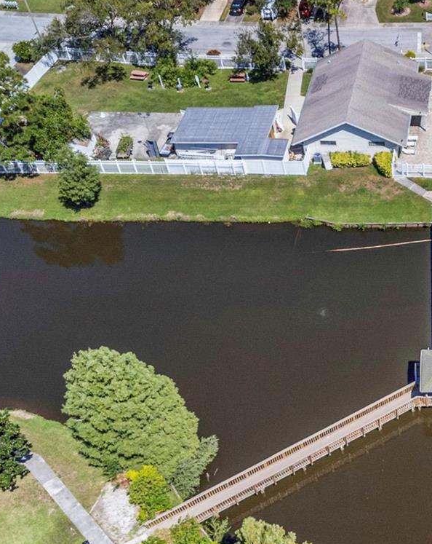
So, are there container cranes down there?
No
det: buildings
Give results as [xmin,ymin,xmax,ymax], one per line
[169,105,289,162]
[291,41,432,164]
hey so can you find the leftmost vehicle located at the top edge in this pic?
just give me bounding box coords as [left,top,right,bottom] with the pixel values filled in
[227,0,247,15]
